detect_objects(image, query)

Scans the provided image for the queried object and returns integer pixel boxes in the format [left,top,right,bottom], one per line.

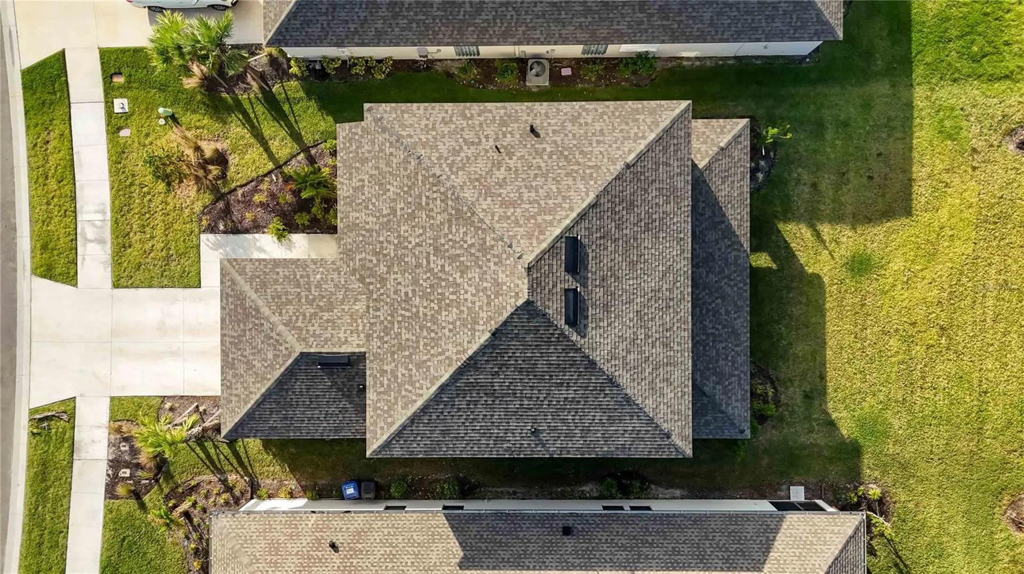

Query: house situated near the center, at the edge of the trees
[220,101,750,458]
